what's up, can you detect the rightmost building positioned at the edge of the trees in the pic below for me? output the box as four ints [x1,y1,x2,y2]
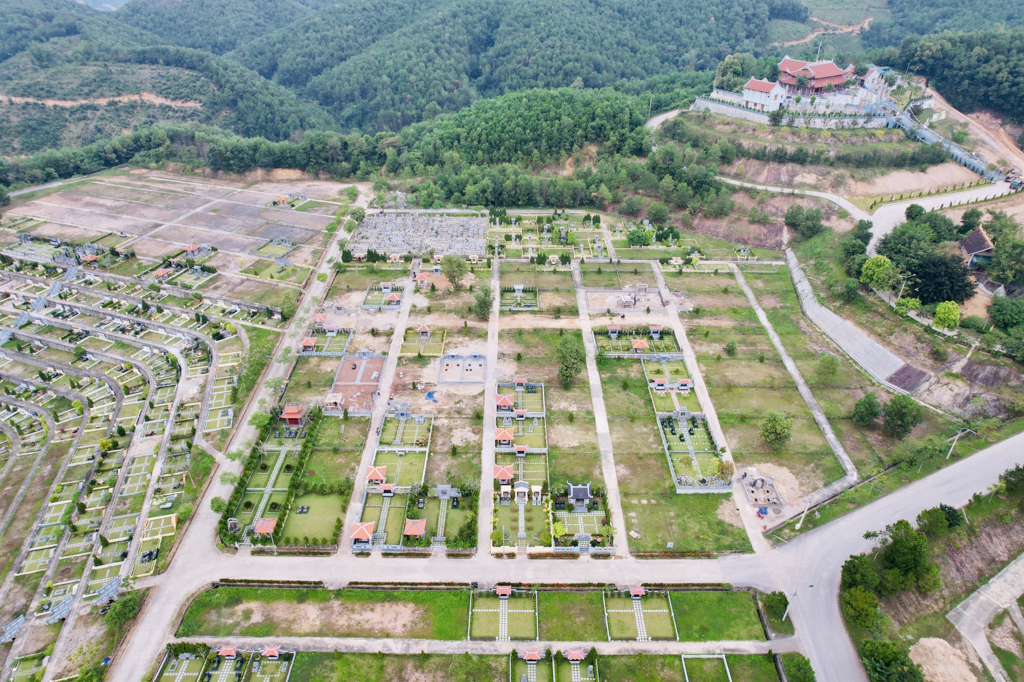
[960,221,1001,271]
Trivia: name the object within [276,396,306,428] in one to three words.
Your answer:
building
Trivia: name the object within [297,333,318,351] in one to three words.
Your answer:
gazebo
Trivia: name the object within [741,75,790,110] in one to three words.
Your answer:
house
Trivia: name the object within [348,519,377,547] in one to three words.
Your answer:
gazebo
